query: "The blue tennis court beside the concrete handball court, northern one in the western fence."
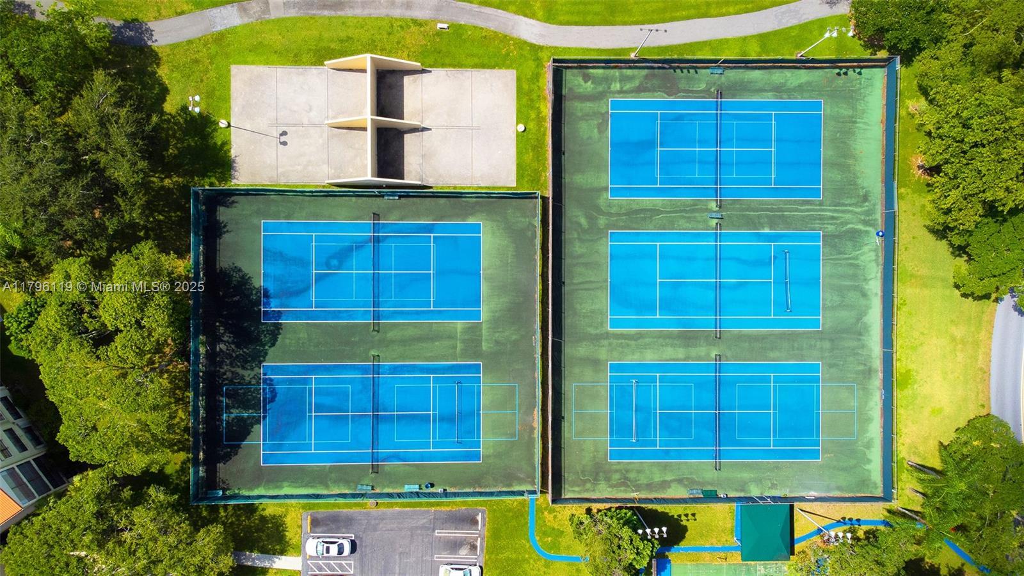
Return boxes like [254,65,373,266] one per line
[262,221,482,322]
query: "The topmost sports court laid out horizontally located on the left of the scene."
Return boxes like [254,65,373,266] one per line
[231,65,516,186]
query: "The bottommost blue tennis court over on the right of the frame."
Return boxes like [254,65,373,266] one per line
[573,362,856,462]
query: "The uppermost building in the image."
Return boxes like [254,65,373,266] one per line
[0,381,72,525]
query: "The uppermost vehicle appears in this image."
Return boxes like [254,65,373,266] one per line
[307,534,352,557]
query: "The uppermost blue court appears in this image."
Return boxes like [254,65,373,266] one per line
[610,98,822,199]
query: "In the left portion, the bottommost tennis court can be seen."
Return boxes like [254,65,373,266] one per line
[225,363,518,465]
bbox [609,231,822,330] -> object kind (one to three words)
tennis court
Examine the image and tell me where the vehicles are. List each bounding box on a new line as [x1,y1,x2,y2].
[307,534,352,557]
[440,562,482,576]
